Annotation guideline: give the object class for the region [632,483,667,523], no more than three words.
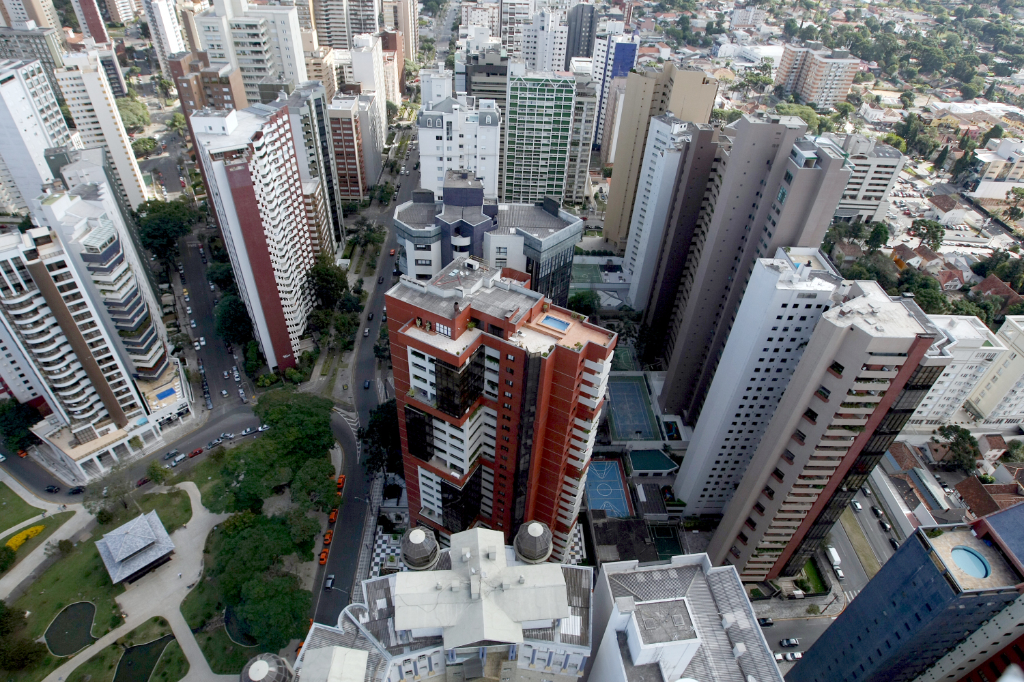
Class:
shed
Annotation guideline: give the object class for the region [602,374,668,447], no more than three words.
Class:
tennis court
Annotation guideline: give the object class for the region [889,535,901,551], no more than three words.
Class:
vehicle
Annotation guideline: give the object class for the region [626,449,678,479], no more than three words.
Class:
building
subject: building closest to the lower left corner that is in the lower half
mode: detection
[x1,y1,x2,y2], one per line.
[93,508,177,589]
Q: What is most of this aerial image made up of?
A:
buildings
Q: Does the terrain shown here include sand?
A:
No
